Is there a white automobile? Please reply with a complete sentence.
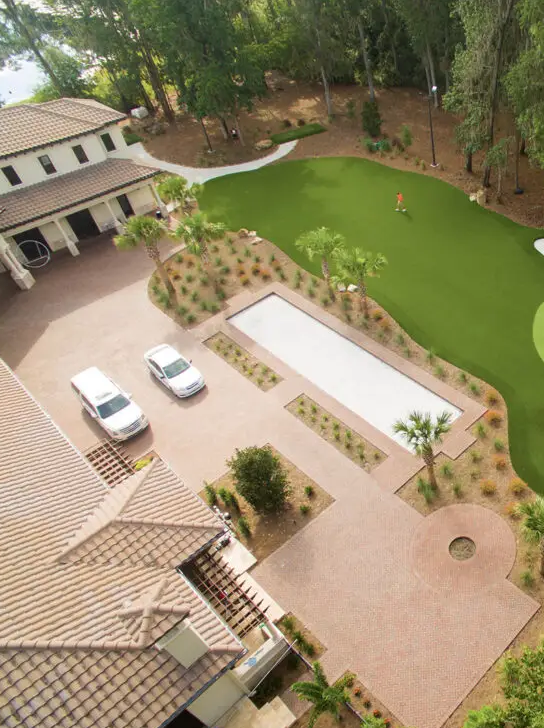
Yes, this view includes a white automobile.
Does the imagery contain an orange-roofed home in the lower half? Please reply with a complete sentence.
No, I can find no orange-roofed home in the lower half.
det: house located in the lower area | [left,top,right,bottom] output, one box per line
[0,359,255,728]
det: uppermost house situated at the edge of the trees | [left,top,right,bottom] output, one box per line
[0,95,173,269]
